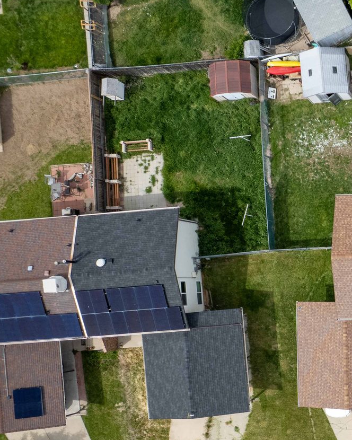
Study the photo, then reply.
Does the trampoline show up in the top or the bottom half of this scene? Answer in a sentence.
The trampoline is in the top half of the image.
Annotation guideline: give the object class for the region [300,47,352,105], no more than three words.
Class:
shed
